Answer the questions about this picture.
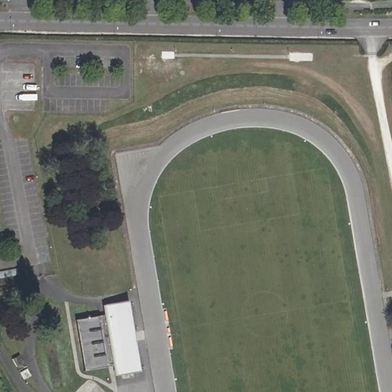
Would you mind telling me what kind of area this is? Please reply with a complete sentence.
This image shows a sports ground.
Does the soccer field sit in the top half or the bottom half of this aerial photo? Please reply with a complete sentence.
It is in the bottom half that the soccer field appears.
